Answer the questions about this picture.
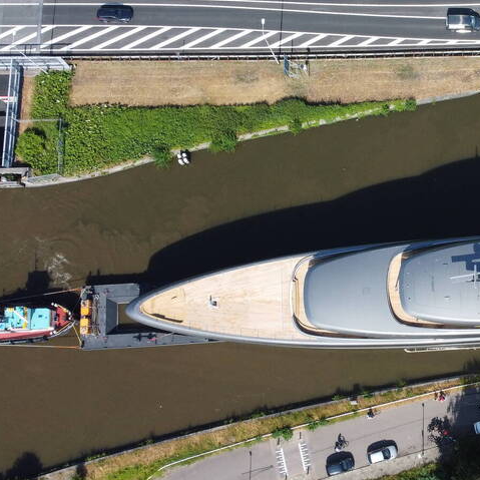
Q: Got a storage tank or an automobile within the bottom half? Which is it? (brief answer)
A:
automobile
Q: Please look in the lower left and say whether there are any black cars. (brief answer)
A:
No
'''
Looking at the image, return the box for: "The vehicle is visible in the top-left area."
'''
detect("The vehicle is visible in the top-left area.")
[96,5,134,23]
